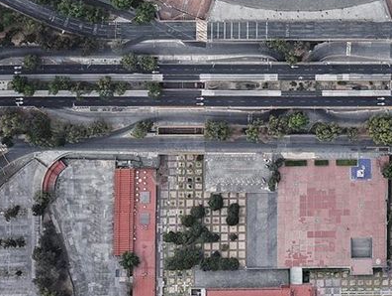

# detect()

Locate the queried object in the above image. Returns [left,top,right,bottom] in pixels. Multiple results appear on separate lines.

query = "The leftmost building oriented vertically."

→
[112,167,135,254]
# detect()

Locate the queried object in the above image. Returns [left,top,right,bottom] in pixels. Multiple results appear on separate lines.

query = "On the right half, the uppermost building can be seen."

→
[204,150,270,192]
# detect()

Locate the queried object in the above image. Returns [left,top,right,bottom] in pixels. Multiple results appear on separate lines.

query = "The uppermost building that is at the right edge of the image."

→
[277,151,387,274]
